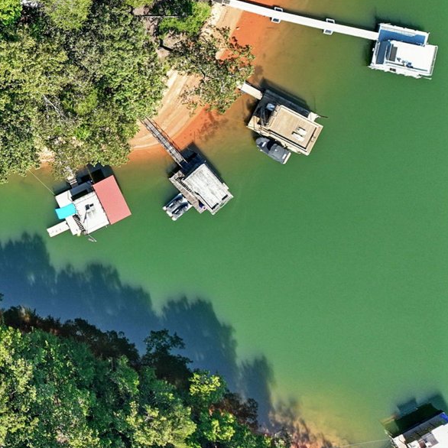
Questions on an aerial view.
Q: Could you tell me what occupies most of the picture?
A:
water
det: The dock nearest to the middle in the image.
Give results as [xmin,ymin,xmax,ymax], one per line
[168,154,233,216]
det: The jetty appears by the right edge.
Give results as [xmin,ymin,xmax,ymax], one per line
[370,22,442,81]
